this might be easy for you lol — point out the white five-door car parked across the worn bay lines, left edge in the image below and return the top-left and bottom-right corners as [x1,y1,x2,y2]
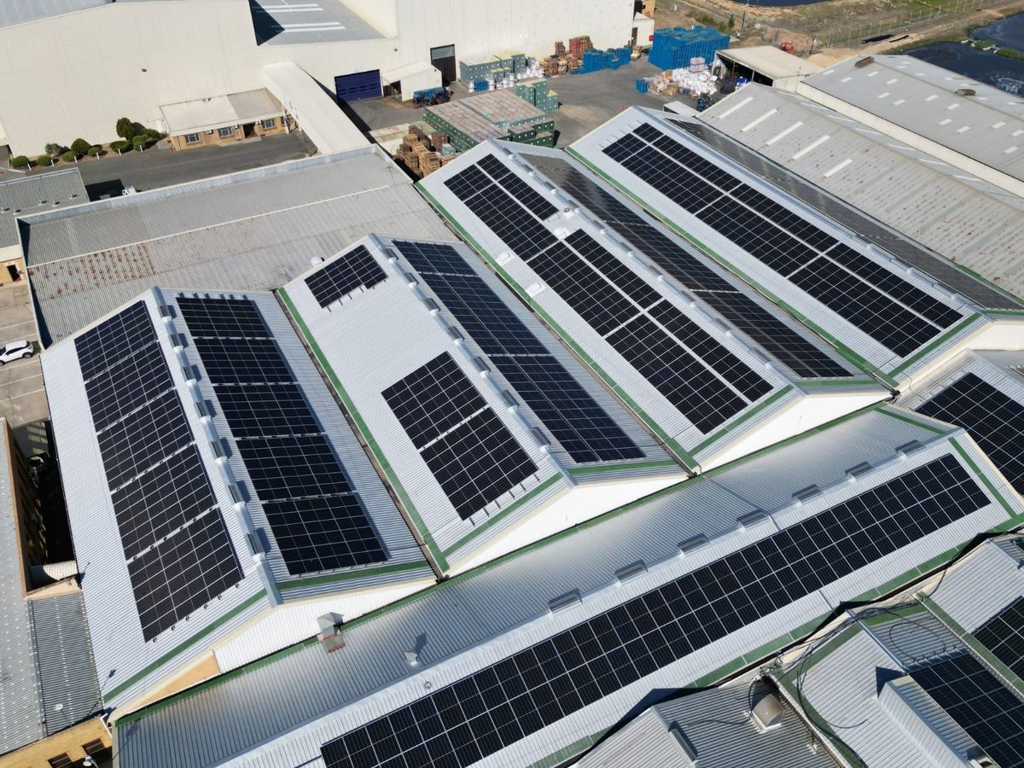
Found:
[0,335,34,363]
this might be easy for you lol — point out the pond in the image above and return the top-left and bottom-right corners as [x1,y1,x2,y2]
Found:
[887,11,1024,104]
